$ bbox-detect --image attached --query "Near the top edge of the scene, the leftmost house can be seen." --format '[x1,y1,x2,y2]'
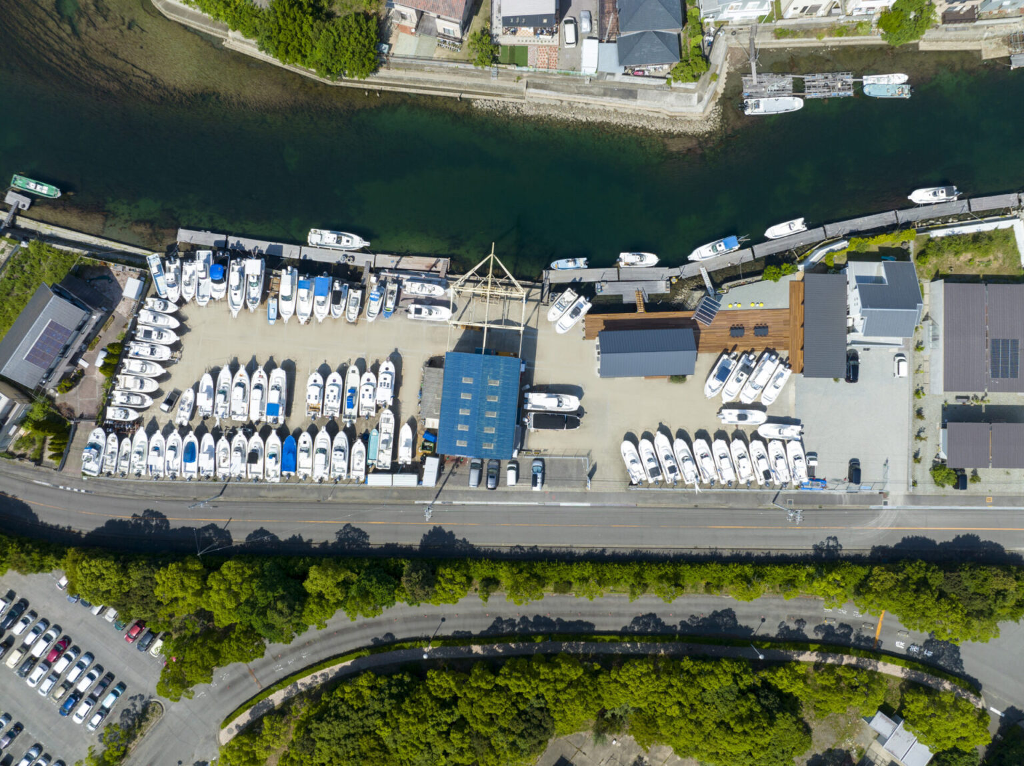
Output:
[392,0,471,39]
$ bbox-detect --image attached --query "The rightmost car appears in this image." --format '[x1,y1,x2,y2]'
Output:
[951,468,968,494]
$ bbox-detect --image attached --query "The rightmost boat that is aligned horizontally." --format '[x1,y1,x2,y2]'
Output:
[909,185,963,203]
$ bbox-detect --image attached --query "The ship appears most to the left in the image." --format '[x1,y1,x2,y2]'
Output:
[11,175,60,197]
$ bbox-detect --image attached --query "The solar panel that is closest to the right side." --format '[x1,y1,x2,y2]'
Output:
[991,338,1019,378]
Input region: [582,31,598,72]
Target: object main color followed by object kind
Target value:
white vehicle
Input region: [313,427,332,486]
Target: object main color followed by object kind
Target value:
white boat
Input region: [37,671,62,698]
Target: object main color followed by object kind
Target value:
white car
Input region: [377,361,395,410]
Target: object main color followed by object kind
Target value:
white boat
